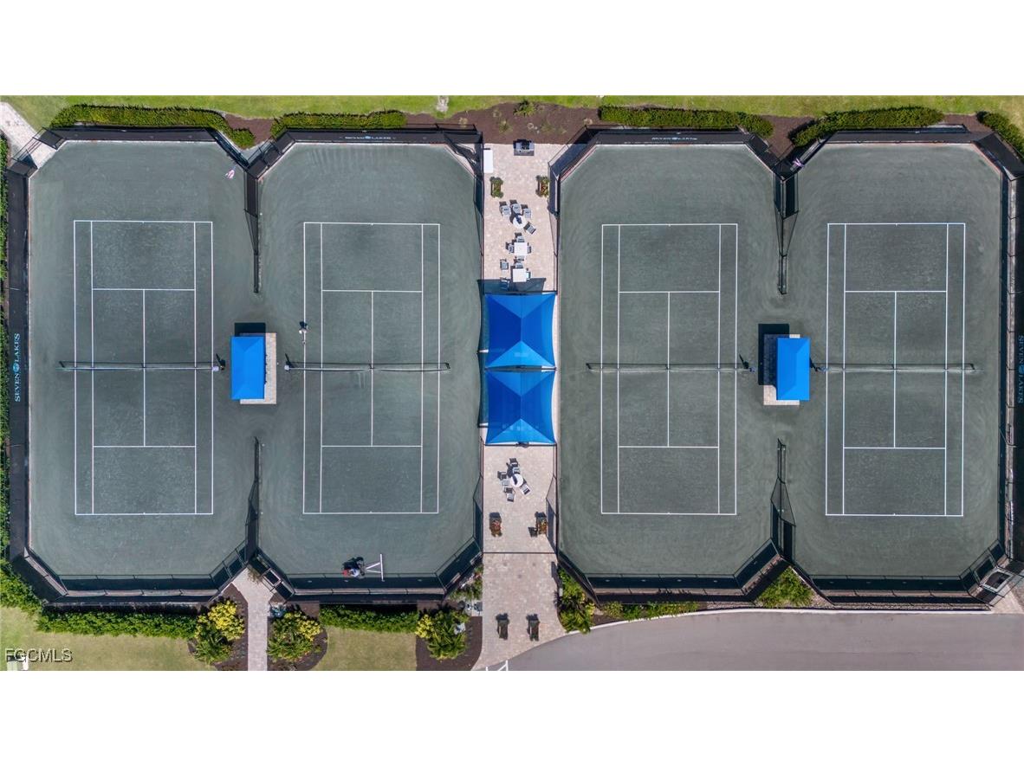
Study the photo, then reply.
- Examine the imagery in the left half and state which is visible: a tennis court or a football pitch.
tennis court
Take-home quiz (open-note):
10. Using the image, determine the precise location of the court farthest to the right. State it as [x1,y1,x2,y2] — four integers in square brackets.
[783,141,1002,593]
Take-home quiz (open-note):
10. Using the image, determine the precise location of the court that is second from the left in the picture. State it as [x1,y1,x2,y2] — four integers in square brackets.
[257,142,483,592]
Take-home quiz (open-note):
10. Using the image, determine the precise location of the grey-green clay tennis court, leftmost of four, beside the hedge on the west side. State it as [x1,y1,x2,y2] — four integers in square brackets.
[26,140,257,593]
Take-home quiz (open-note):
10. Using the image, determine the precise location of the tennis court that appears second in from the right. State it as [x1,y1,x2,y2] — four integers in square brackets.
[560,142,784,593]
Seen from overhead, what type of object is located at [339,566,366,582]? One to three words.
work vehicle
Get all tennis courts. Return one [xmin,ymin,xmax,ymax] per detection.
[257,142,483,592]
[560,142,784,593]
[783,141,1002,593]
[26,140,257,593]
